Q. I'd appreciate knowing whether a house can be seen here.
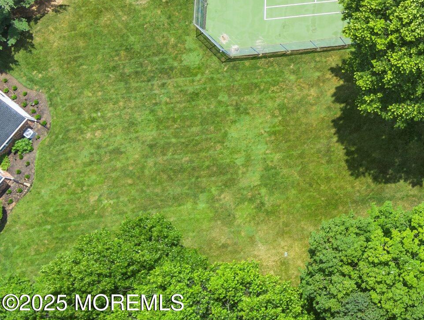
Yes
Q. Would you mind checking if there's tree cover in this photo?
Yes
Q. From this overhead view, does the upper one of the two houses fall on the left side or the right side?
left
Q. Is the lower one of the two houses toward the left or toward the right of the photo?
left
